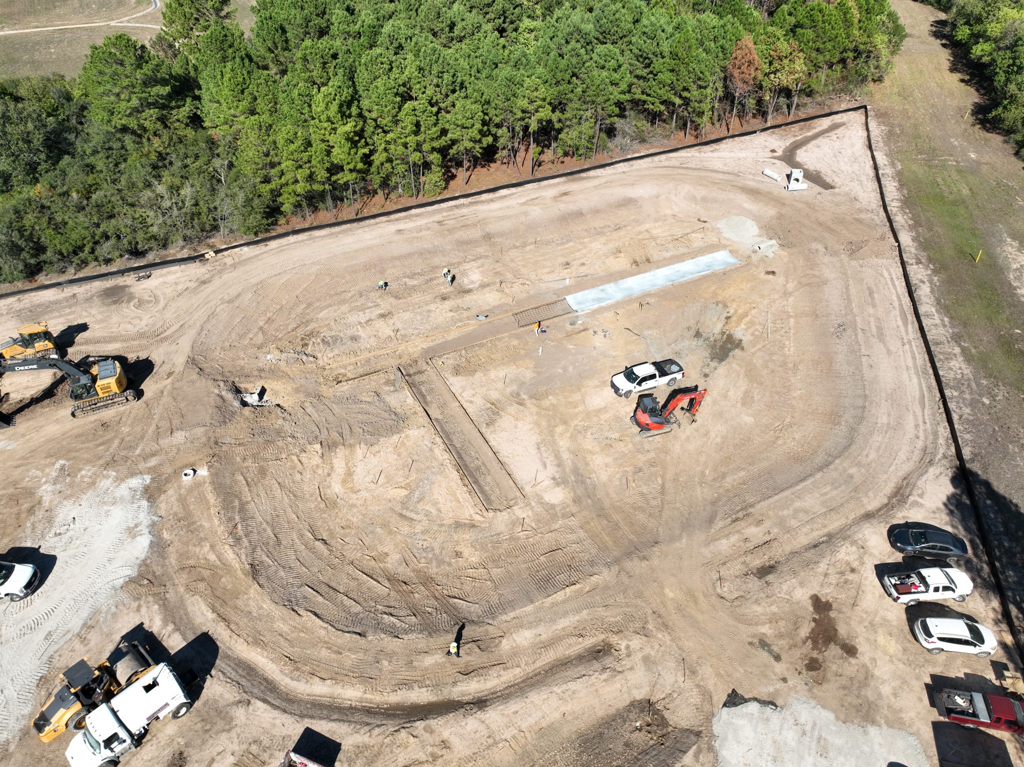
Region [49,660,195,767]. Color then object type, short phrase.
white truck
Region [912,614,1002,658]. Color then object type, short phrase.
white car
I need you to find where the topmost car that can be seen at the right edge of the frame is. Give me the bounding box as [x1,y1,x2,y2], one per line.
[891,524,973,563]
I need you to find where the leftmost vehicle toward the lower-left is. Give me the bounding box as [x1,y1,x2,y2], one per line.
[0,557,45,602]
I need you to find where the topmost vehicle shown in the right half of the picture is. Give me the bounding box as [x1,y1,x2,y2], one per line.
[606,356,686,399]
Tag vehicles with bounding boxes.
[49,660,195,767]
[933,683,1024,735]
[883,562,979,606]
[0,557,45,602]
[891,524,973,563]
[606,356,686,399]
[0,314,72,368]
[912,614,1002,658]
[633,382,711,437]
[0,353,141,432]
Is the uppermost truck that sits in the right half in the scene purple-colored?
No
